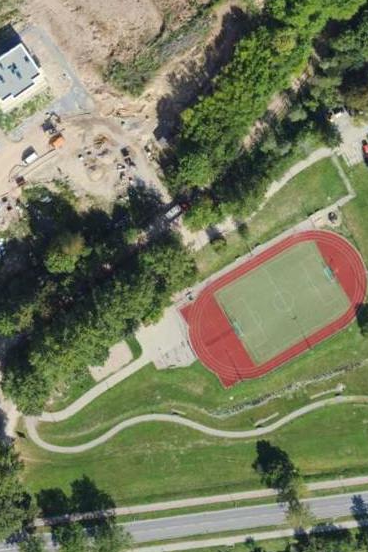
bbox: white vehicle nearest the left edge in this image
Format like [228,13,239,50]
[22,150,39,164]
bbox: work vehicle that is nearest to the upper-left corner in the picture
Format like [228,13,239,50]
[41,113,62,133]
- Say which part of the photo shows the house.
top left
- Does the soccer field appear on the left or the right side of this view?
right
